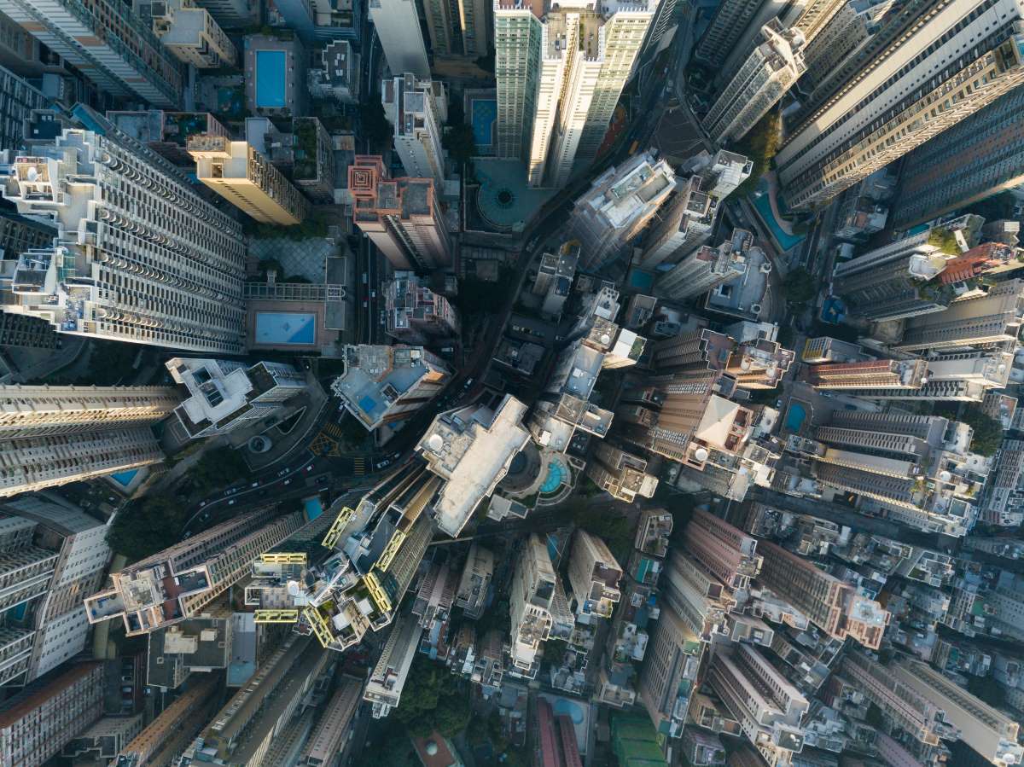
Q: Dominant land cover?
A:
buildings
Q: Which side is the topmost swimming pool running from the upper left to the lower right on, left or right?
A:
right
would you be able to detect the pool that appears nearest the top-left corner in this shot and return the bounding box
[256,50,286,106]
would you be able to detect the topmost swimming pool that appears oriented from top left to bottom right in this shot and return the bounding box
[755,192,802,248]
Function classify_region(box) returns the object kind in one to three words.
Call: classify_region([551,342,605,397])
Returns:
building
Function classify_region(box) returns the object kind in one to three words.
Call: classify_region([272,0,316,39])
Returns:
building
